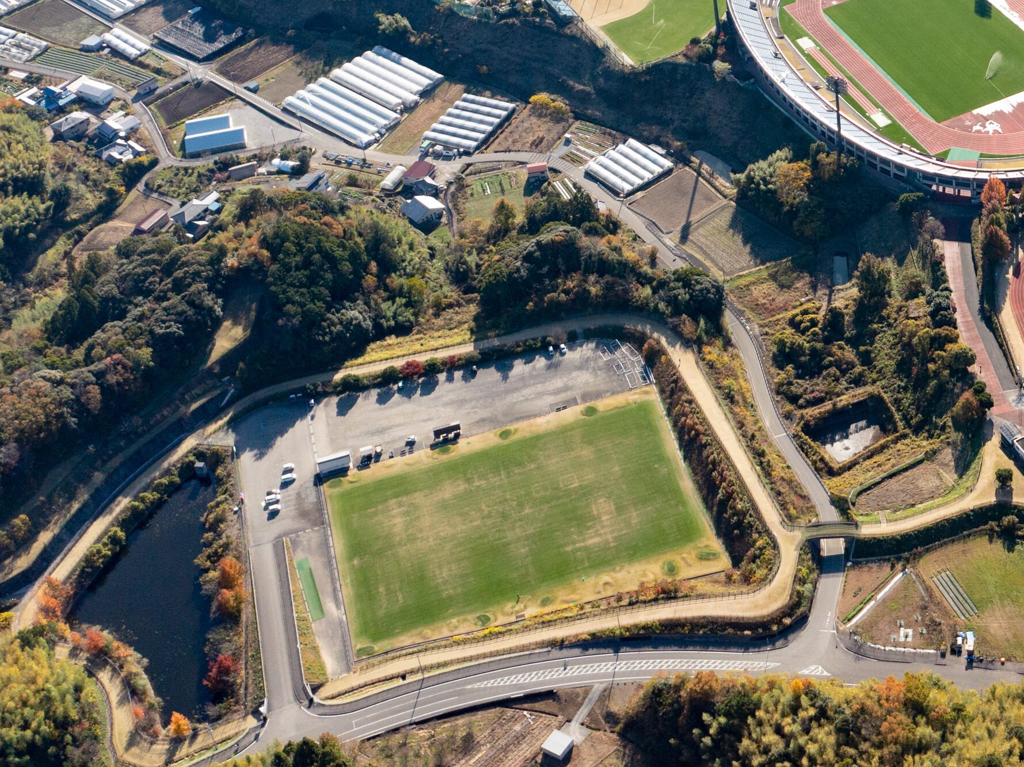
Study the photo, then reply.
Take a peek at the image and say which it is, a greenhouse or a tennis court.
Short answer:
greenhouse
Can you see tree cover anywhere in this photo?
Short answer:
Yes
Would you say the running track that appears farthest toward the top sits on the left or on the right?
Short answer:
right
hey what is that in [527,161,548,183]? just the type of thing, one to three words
barn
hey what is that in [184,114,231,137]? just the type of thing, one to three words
building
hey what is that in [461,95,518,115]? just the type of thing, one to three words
greenhouse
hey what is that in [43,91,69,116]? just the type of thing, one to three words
house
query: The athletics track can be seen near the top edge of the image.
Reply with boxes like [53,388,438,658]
[784,0,1024,154]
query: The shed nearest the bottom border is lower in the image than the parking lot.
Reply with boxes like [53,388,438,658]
[543,729,574,760]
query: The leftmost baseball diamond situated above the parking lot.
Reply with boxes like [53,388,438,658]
[573,0,724,64]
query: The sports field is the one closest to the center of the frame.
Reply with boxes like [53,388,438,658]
[322,387,732,663]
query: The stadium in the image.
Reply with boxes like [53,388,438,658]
[722,0,1024,205]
